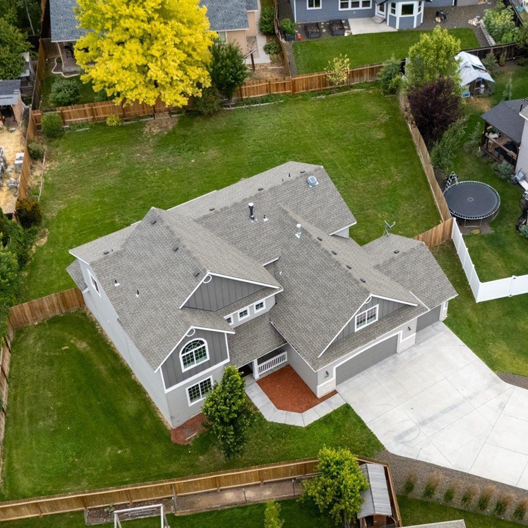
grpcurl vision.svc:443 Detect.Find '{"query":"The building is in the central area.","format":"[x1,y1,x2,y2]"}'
[65,162,459,428]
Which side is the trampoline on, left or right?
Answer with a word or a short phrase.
right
